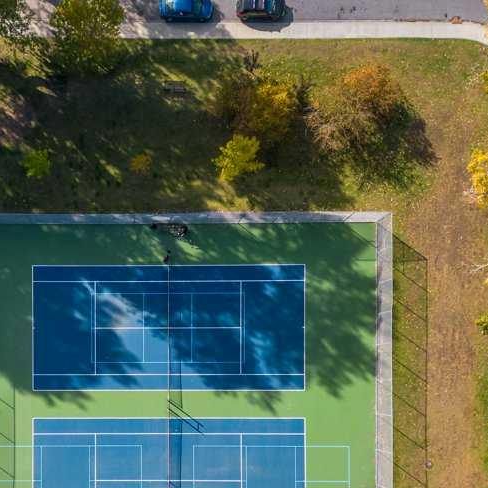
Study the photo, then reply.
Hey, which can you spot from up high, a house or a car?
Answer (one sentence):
The image shows a car.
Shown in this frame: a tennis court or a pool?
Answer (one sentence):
The one in the frame is a tennis court.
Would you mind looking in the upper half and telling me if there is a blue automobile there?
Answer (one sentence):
Yes, a blue automobile is visible in the upper half.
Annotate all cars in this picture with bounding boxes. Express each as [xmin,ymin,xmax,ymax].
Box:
[159,0,212,23]
[235,0,287,22]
